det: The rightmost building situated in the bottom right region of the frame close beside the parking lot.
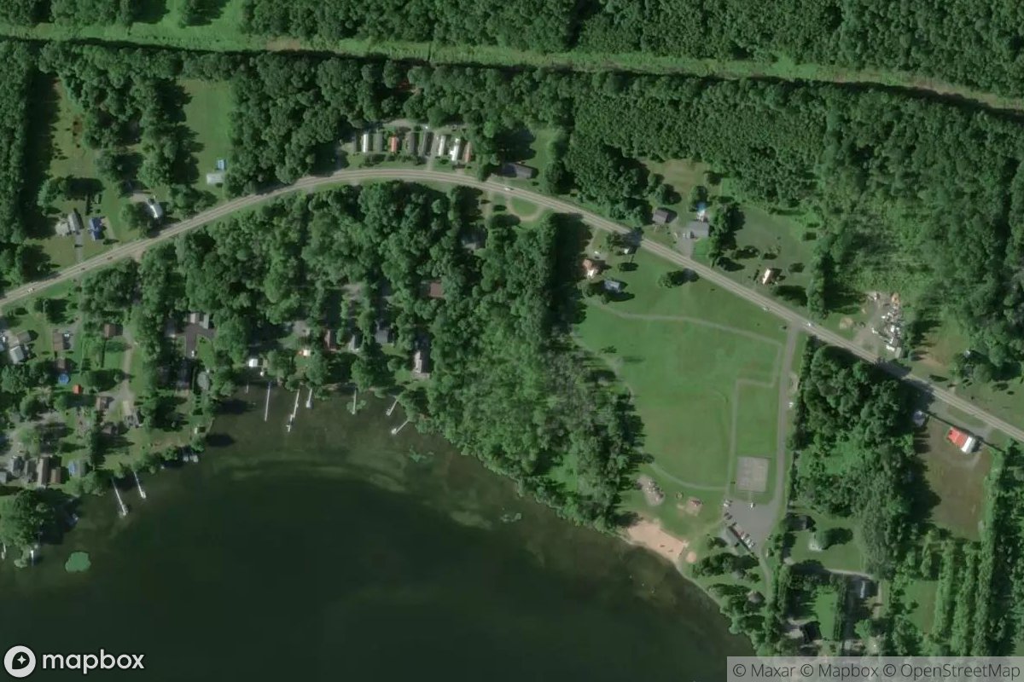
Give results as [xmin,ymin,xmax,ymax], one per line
[785,514,808,530]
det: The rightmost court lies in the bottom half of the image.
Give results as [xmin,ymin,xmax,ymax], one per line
[737,457,766,492]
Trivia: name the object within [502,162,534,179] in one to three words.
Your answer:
house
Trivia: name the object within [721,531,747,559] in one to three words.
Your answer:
building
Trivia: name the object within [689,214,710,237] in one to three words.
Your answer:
house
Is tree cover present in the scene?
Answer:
Yes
